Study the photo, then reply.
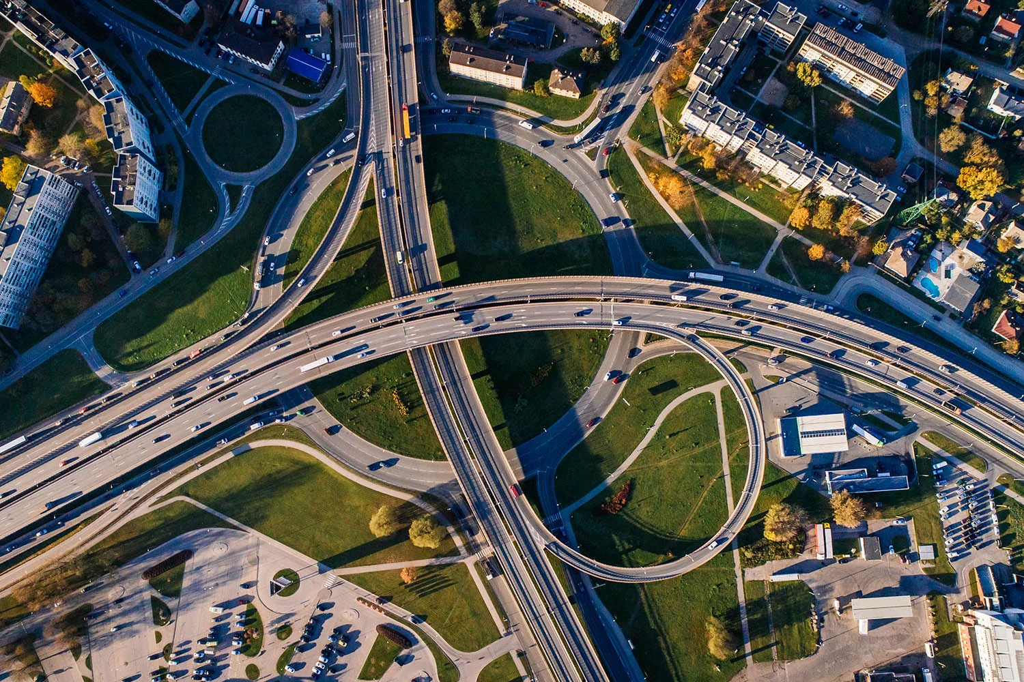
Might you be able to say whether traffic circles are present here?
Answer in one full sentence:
Yes, there's a traffic circle here.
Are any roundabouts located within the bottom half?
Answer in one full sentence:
No, I can find no roundabout within the bottom half.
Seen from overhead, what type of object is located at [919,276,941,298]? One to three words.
swimming pool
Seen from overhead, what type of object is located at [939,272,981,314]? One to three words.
house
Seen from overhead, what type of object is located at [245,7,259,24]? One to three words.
vehicle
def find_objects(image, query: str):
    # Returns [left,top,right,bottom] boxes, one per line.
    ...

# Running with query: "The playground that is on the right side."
[759,78,787,105]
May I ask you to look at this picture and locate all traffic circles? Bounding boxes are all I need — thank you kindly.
[189,82,297,185]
